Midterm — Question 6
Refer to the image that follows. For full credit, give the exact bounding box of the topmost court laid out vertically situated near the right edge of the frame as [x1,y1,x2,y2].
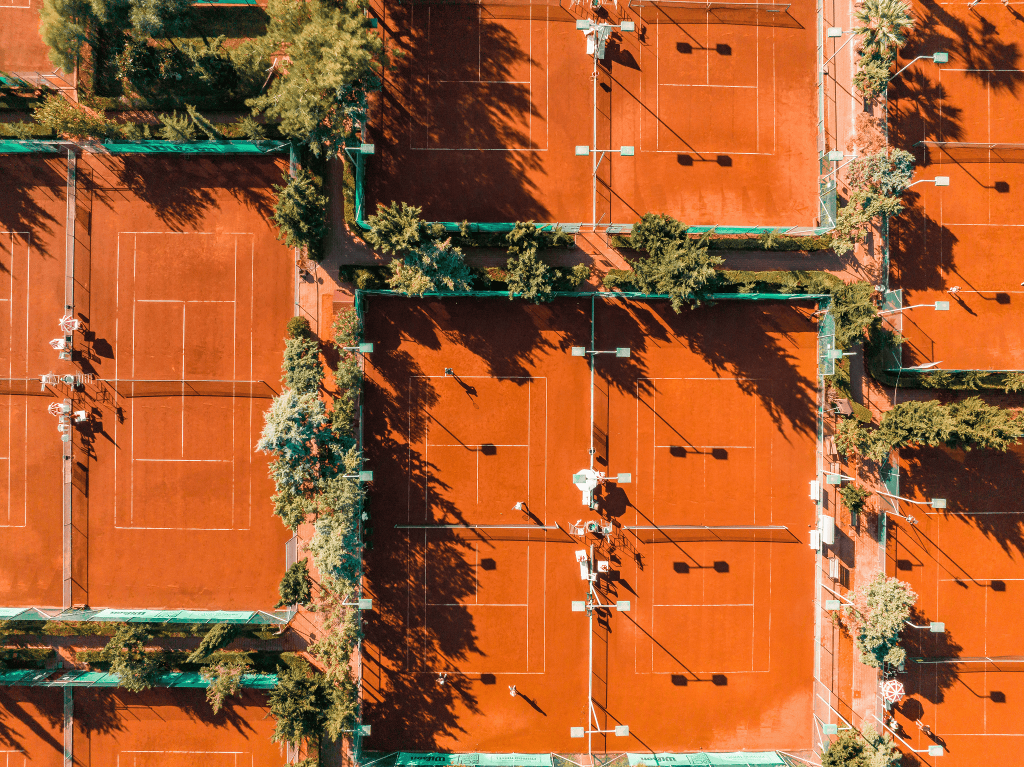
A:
[881,0,1024,371]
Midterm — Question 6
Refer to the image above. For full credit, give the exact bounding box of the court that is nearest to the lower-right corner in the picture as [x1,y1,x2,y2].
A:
[877,436,1024,767]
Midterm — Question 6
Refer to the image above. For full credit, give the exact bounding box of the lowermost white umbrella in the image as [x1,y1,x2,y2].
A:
[876,676,902,700]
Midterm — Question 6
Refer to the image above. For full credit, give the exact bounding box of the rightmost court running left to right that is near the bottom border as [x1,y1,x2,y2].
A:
[72,672,297,767]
